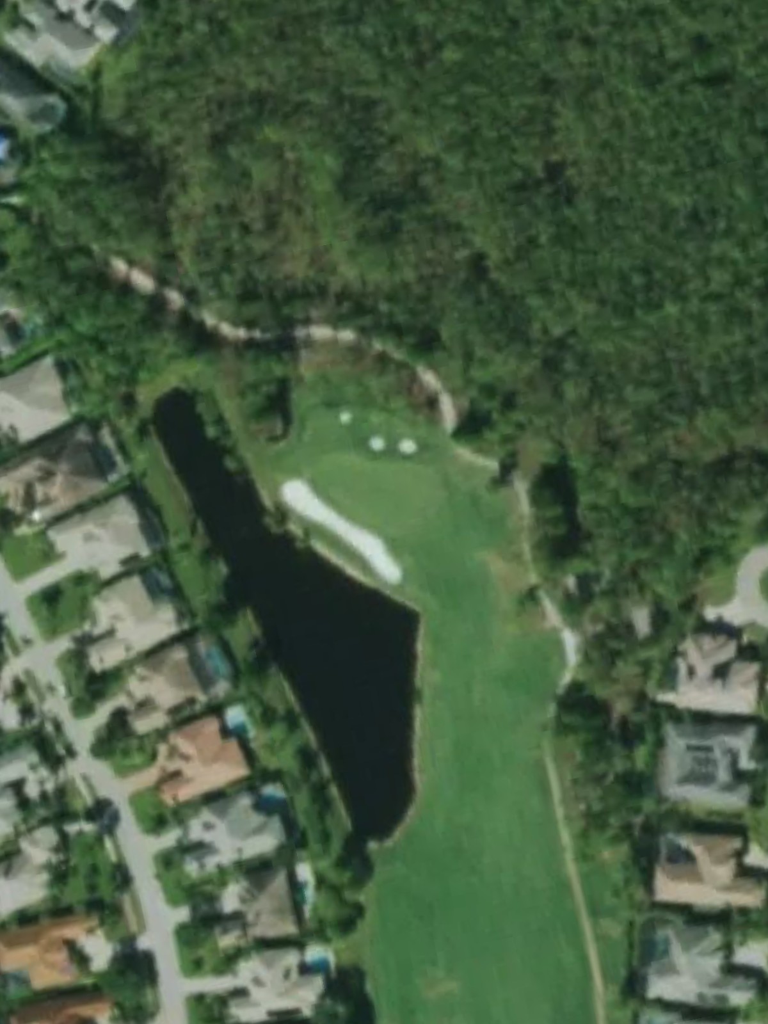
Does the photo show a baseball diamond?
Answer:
No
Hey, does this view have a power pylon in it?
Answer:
No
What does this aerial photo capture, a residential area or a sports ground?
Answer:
residential area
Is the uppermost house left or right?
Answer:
left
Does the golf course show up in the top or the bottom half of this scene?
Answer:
bottom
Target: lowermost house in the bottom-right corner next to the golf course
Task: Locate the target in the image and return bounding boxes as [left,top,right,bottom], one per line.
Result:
[648,928,758,1014]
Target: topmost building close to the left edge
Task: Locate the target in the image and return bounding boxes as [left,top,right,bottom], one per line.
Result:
[9,0,137,73]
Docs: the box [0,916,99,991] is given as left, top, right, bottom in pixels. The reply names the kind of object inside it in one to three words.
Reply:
house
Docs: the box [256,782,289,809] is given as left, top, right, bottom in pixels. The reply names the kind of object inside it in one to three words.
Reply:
swimming pool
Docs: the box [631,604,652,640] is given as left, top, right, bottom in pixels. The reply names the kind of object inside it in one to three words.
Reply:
shed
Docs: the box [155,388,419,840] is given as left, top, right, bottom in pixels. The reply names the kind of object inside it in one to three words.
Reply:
pond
